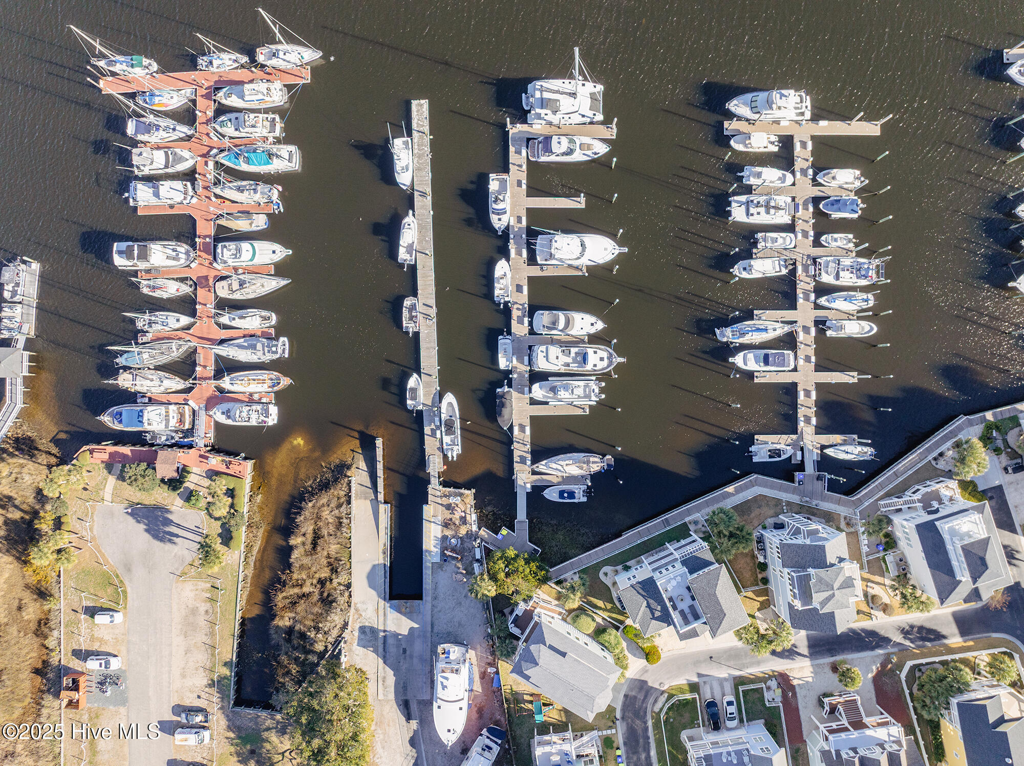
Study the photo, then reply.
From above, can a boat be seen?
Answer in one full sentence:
Yes, the photo shows a boat.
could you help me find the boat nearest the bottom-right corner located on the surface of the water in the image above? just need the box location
[821,444,883,462]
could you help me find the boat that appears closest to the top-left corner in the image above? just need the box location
[88,26,161,74]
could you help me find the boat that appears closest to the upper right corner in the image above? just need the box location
[1000,65,1024,88]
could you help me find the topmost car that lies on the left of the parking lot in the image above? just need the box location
[91,610,123,627]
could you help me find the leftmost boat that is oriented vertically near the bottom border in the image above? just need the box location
[432,638,471,752]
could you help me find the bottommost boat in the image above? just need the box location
[464,723,508,766]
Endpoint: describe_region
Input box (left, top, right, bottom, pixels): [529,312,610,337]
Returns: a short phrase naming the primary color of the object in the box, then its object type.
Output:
white boat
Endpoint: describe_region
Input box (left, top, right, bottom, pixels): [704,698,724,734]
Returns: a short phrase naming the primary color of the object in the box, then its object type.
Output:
black car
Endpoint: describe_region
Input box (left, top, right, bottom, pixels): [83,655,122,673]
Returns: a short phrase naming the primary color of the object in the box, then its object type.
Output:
white car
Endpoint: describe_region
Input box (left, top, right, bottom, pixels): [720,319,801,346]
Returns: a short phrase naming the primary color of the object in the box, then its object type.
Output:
white boat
